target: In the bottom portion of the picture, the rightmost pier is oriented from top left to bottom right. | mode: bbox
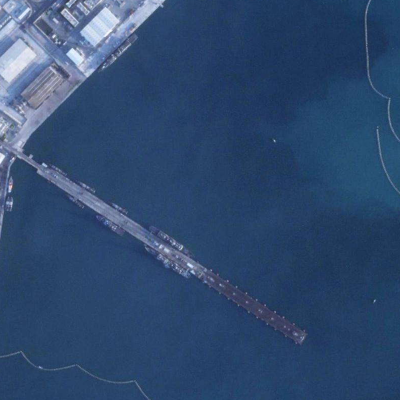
[17,151,306,343]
